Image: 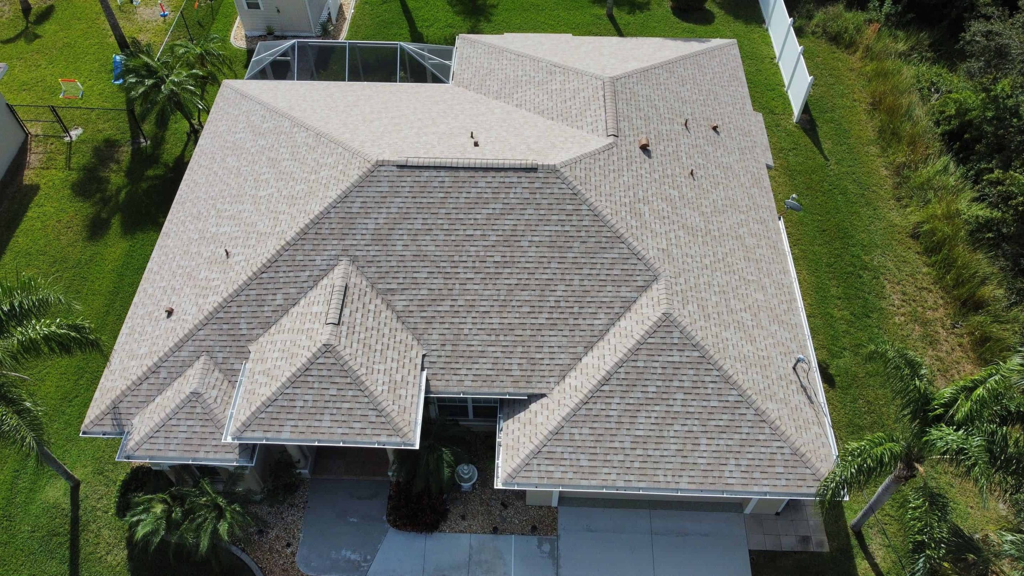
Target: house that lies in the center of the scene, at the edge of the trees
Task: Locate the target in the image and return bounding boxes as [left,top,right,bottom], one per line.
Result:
[79,34,851,530]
